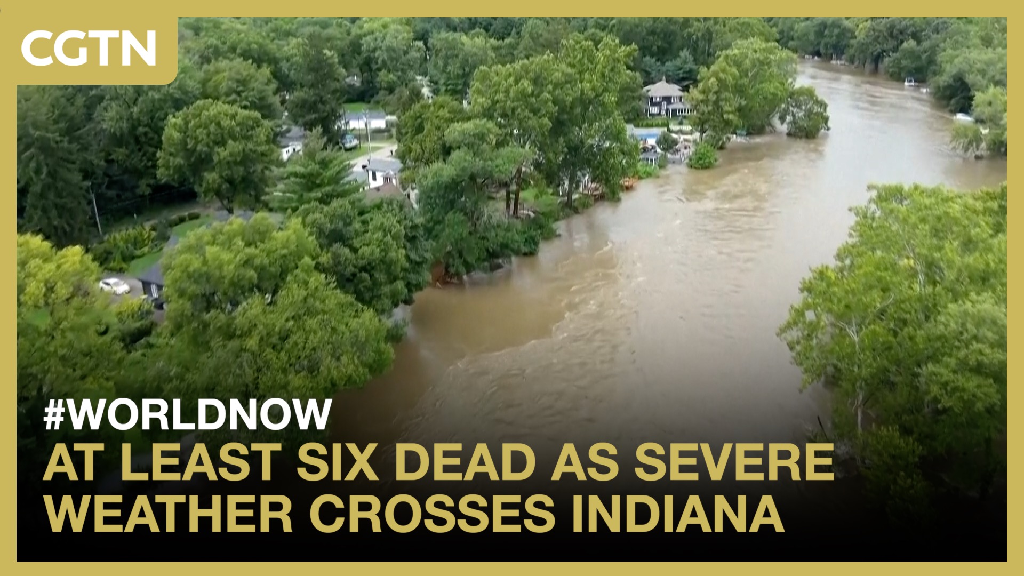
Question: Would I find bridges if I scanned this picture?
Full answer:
No, I can't see a single bridge in this photo.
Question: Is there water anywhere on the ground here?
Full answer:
Yes, there is water in the image.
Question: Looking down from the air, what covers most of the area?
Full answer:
Most of the picture is covered by trees.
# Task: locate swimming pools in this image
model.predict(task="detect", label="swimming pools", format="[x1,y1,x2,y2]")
[634,129,667,145]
